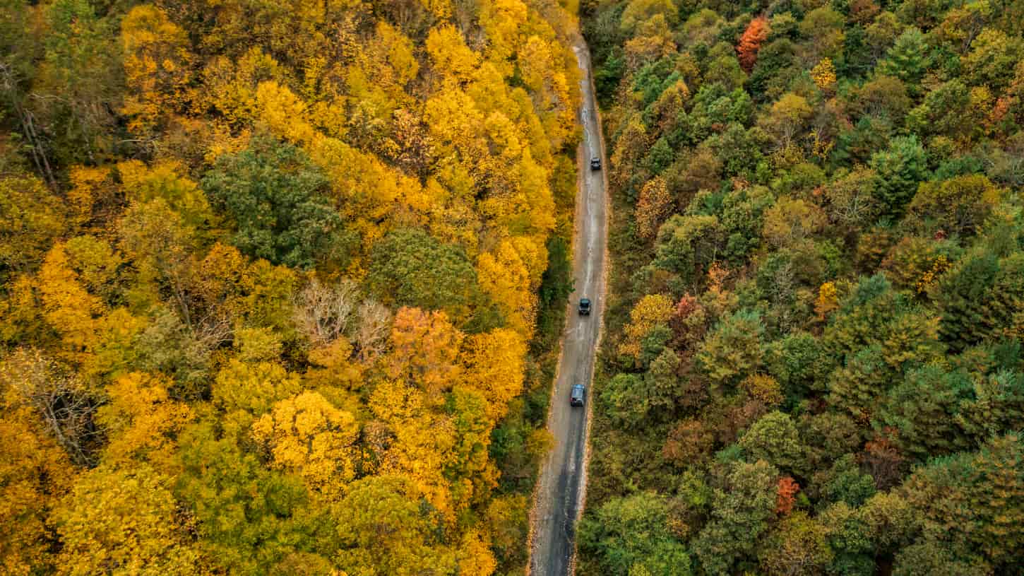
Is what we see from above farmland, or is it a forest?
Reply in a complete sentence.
It's a forest.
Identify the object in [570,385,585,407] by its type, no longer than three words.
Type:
car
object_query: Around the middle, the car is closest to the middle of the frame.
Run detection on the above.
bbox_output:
[578,295,592,316]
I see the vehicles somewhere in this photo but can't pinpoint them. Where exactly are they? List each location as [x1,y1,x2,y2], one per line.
[570,385,585,407]
[590,155,601,170]
[578,295,592,316]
